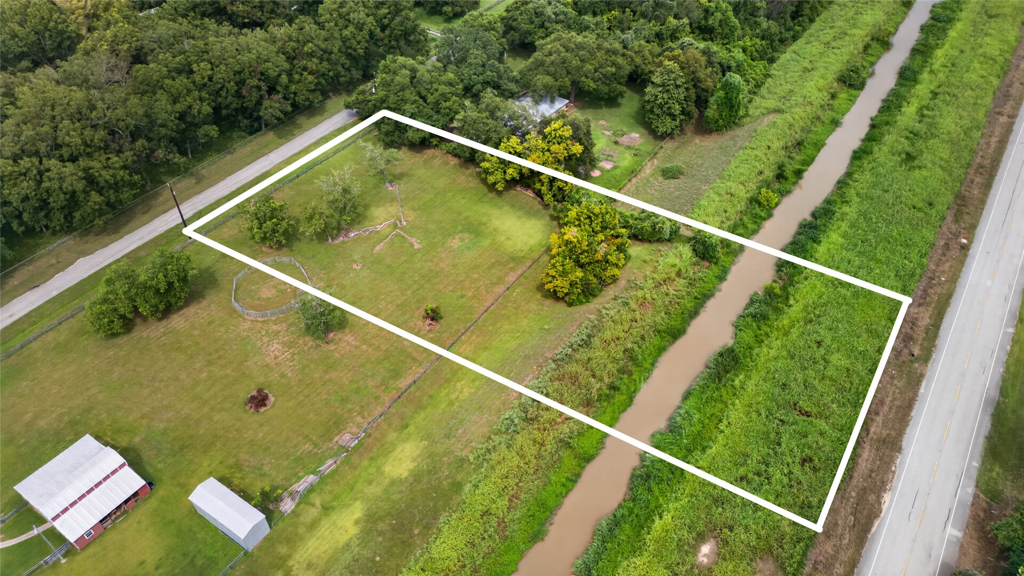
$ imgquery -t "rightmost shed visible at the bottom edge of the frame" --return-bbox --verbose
[192,480,270,551]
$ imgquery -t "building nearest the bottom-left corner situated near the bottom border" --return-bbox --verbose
[12,433,151,550]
